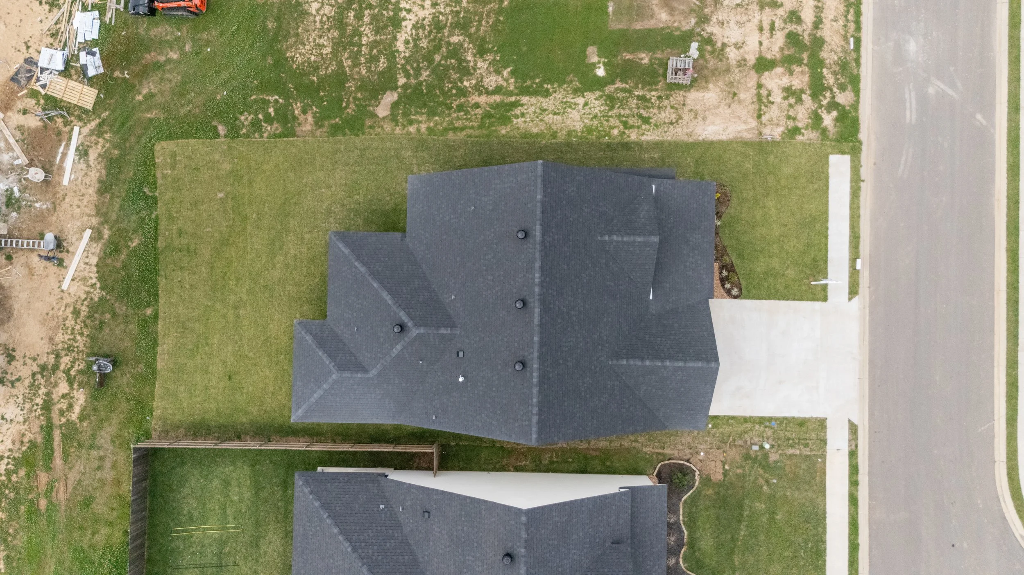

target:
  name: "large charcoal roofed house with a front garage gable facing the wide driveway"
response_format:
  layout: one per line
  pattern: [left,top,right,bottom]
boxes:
[292,161,720,447]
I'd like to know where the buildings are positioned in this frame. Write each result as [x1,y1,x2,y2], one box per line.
[292,464,667,575]
[292,161,720,447]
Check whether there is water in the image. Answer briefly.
No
